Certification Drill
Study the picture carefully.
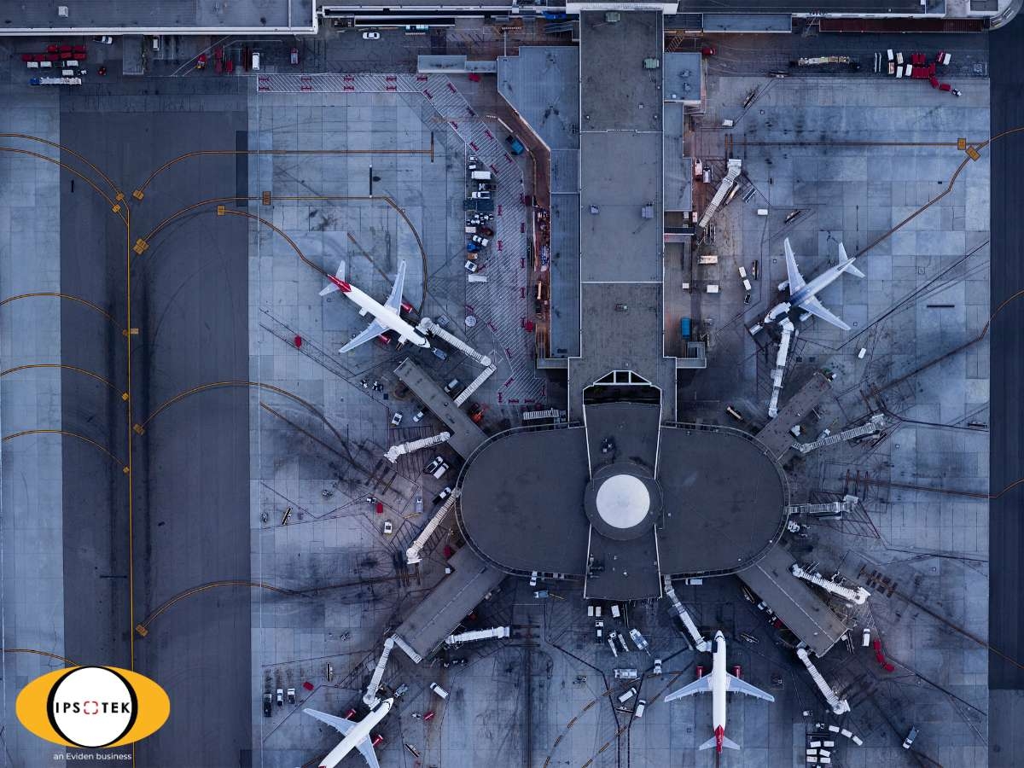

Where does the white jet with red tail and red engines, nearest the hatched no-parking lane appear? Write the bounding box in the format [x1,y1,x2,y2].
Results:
[322,260,430,353]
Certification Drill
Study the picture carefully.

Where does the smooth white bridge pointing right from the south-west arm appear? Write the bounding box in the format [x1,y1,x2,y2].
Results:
[443,624,512,646]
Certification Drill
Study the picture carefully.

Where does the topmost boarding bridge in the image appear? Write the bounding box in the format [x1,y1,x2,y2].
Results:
[695,158,742,229]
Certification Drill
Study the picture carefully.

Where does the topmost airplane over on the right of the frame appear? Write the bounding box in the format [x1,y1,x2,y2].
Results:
[765,238,862,331]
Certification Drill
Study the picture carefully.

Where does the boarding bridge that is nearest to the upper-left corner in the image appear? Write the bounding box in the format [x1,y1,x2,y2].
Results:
[413,319,493,367]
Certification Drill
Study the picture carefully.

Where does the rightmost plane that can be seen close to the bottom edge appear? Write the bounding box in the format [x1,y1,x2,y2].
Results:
[664,631,775,757]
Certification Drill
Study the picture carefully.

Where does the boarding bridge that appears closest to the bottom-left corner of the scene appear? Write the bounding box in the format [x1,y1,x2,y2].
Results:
[363,635,395,711]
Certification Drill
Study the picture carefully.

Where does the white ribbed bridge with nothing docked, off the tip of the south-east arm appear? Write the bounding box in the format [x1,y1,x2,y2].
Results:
[793,646,849,713]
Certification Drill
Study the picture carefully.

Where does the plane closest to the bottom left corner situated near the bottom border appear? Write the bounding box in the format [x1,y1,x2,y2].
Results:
[298,698,393,768]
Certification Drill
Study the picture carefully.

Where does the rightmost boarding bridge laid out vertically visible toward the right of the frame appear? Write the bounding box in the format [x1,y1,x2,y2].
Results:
[766,308,795,418]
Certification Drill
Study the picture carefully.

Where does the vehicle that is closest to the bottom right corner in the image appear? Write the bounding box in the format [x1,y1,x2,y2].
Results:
[905,727,919,748]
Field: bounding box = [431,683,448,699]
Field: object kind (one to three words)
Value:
vehicle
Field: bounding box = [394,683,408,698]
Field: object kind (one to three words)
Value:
work vehicle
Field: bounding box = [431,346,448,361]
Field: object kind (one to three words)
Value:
work vehicle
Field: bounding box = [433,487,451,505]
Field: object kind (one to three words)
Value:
vehicle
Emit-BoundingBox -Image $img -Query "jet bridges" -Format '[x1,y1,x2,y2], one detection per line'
[786,495,857,516]
[384,430,451,465]
[791,412,886,453]
[443,624,512,646]
[663,577,718,650]
[406,487,461,560]
[695,158,742,229]
[413,319,493,367]
[790,564,870,602]
[766,308,795,418]
[363,635,395,711]
[793,646,849,713]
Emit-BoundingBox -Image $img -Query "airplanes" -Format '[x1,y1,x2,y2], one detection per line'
[322,260,430,353]
[664,631,775,757]
[298,698,393,768]
[765,238,862,331]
